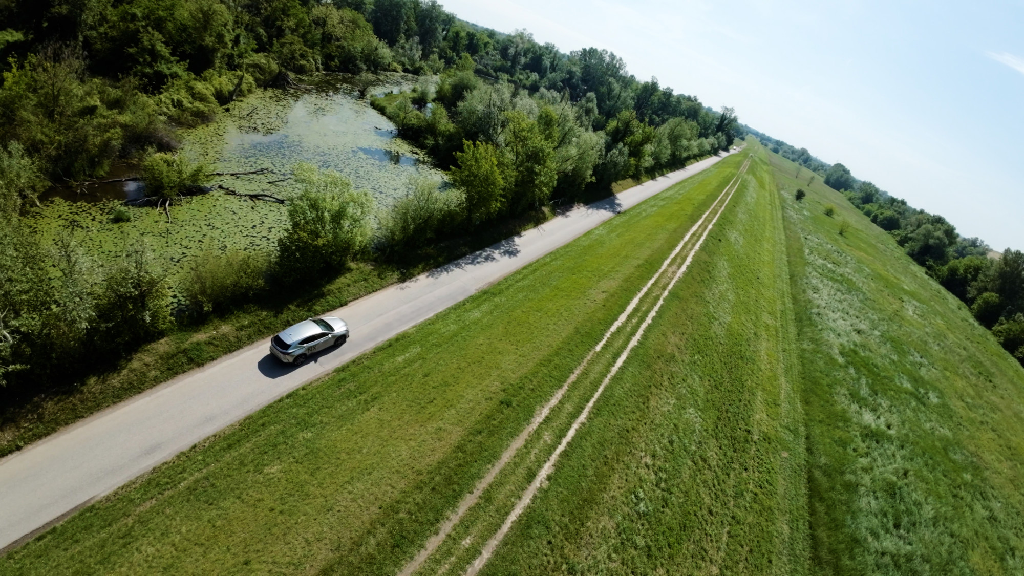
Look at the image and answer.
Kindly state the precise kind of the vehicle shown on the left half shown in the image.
car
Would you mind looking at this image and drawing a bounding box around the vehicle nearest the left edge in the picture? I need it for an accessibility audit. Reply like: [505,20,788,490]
[266,316,350,366]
